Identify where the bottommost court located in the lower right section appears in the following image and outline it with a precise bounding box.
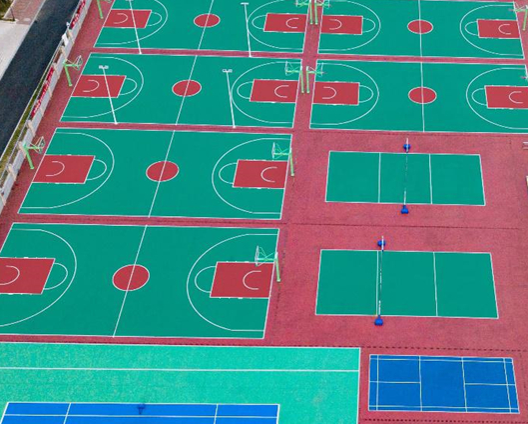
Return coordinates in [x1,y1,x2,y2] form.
[368,356,519,413]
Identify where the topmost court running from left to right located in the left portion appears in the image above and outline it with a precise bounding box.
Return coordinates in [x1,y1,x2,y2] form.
[94,0,310,53]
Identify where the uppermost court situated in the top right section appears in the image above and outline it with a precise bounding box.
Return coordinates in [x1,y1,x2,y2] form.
[318,0,525,59]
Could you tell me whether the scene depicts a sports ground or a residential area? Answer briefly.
sports ground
